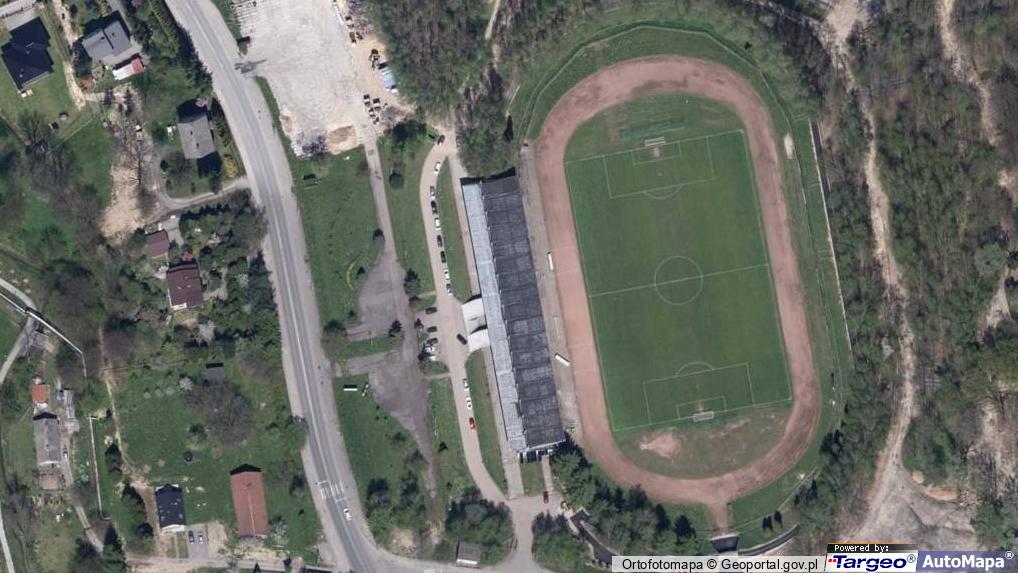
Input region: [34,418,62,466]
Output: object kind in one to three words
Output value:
house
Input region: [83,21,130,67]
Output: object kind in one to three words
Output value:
house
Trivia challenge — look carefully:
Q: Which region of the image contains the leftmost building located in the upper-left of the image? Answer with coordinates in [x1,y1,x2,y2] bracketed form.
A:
[3,18,55,84]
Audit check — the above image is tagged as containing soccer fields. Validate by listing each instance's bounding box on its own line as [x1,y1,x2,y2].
[565,129,791,433]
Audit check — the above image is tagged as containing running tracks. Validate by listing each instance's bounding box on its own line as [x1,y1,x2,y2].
[537,54,821,531]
